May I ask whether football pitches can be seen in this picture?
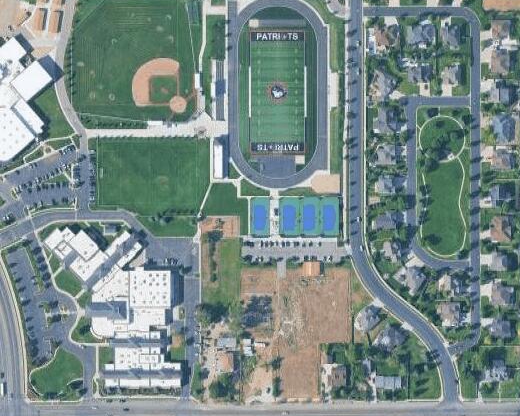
Yes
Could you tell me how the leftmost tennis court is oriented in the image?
from top to bottom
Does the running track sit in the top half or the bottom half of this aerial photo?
top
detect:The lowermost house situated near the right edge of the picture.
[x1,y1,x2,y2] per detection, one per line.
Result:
[486,362,508,383]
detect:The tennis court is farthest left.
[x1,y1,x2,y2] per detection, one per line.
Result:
[250,197,270,236]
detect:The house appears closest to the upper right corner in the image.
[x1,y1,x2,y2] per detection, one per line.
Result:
[491,20,511,44]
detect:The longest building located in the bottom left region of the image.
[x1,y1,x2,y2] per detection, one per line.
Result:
[44,228,181,388]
